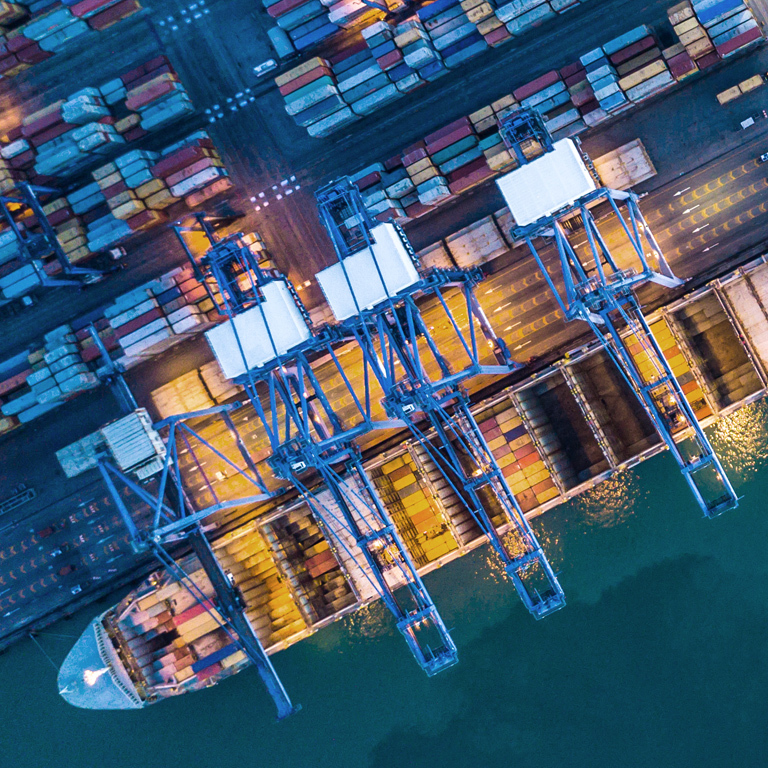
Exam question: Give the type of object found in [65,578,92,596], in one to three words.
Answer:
vehicle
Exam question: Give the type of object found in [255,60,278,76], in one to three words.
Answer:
vehicle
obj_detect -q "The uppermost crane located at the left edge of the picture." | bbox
[0,184,111,290]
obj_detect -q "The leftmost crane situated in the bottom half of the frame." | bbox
[82,323,308,722]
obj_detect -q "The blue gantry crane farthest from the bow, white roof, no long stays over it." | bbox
[489,99,746,530]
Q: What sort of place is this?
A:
port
